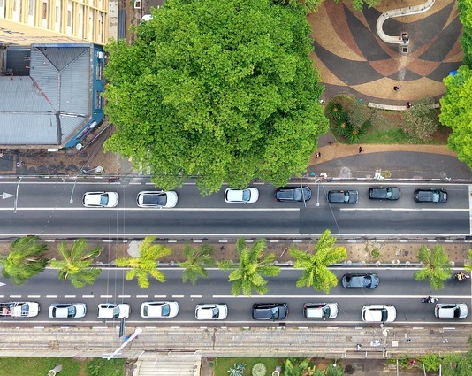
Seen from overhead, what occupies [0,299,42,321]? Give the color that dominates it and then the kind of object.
white truck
